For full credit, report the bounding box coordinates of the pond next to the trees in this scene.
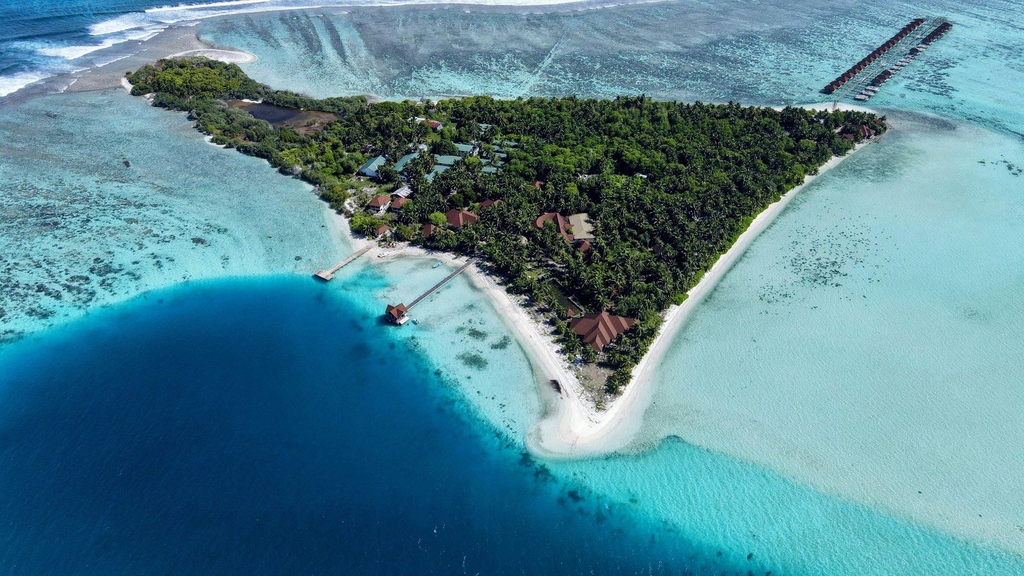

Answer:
[229,99,337,134]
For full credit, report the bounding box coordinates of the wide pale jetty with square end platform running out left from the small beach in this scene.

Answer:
[309,240,378,284]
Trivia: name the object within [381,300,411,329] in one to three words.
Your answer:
house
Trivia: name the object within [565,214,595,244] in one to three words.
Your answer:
building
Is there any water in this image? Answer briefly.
Yes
